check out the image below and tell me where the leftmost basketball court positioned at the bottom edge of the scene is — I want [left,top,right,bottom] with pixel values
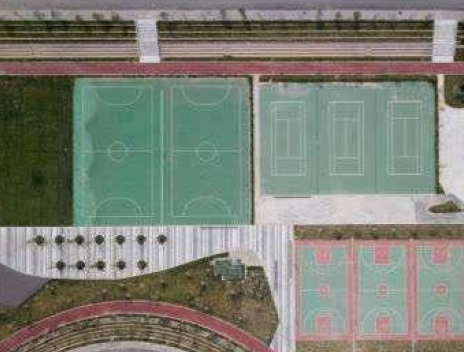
[296,239,353,340]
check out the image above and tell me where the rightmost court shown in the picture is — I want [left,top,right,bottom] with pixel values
[412,239,464,340]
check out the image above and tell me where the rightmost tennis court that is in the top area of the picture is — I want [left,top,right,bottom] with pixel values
[377,81,436,195]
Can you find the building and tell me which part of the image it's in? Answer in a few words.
bottom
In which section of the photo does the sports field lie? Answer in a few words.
left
